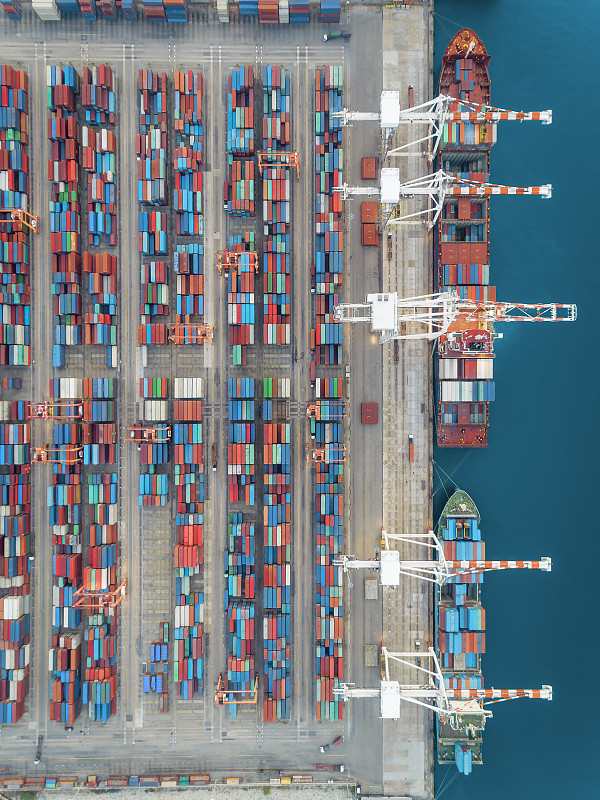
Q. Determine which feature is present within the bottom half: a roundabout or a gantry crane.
gantry crane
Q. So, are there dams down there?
No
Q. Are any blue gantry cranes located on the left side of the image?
No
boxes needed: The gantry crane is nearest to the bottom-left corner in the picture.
[72,579,130,607]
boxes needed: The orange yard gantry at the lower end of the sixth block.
[214,664,259,697]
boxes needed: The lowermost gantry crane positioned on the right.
[332,638,557,716]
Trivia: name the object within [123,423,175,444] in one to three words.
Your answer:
container crane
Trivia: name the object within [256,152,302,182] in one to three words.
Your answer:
container crane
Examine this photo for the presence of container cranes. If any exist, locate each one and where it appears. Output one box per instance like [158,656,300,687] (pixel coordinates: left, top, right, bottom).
[214,664,259,697]
[305,442,349,464]
[30,401,85,421]
[123,423,175,444]
[30,443,86,465]
[304,400,349,420]
[332,92,557,170]
[164,323,216,345]
[332,523,557,585]
[72,579,130,607]
[256,152,302,182]
[332,638,557,716]
[215,249,262,274]
[330,293,577,351]
[0,209,40,236]
[332,168,557,235]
